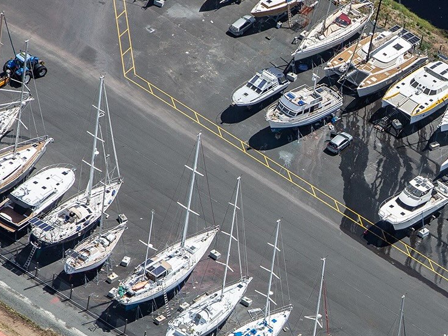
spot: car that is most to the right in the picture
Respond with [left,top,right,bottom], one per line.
[326,131,352,151]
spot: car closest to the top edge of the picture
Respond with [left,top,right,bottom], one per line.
[228,13,258,33]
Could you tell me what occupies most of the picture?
paved ground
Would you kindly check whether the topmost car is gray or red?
gray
